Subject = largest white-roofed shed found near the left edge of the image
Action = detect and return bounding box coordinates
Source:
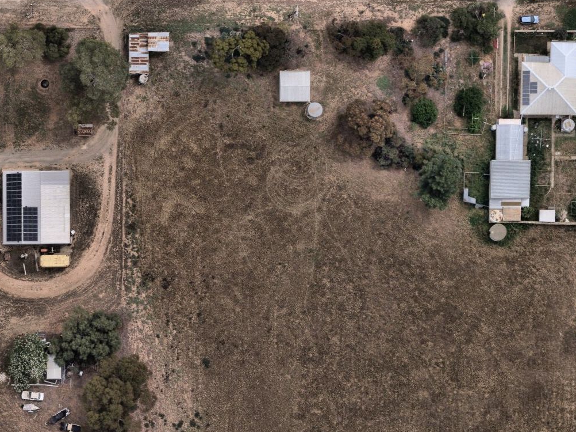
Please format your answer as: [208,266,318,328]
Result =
[1,171,69,245]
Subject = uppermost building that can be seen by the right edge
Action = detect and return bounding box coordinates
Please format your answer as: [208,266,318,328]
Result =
[520,41,576,116]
